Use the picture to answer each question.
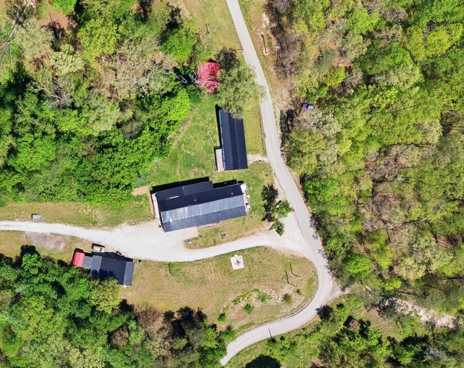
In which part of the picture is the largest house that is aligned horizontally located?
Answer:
center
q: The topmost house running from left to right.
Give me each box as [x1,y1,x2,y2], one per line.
[151,181,245,232]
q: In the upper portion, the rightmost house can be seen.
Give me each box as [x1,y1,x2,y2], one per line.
[214,108,248,171]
